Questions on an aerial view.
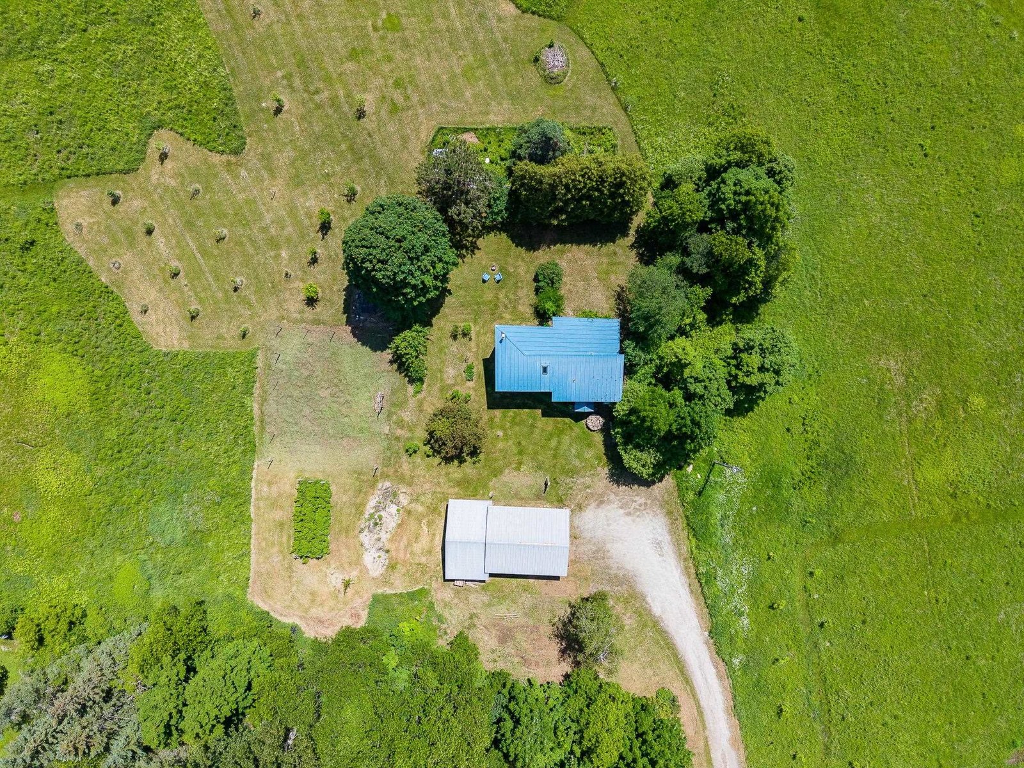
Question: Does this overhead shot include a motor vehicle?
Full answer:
No, the scene contains no motor vehicle.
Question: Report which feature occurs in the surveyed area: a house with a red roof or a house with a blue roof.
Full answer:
It is a house with a blue roof that can be seen here.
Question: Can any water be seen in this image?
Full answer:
No, no water is visible.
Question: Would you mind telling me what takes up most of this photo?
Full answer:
The scene is dominated by grass.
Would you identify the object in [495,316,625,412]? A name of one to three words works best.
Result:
house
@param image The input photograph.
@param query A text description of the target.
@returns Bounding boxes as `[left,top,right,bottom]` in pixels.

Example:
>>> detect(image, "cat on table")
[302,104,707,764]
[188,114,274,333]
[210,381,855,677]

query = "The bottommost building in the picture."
[444,497,569,580]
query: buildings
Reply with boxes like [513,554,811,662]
[444,497,569,580]
[495,316,625,412]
